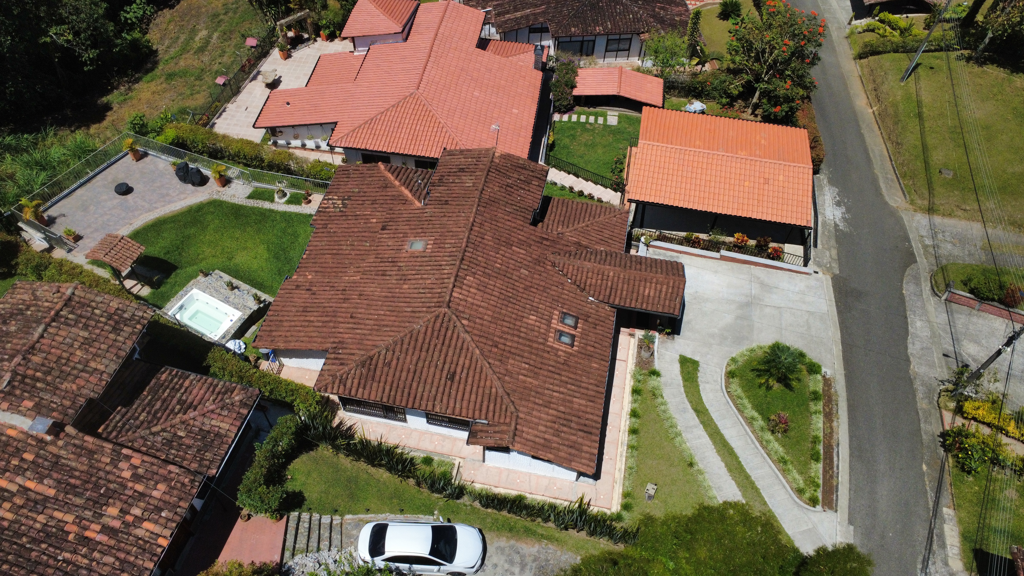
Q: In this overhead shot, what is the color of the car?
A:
white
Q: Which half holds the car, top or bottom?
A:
bottom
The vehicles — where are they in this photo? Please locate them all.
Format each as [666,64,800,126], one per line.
[357,514,489,576]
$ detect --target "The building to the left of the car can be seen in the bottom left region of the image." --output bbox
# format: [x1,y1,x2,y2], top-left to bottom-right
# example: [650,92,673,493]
[0,278,262,576]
